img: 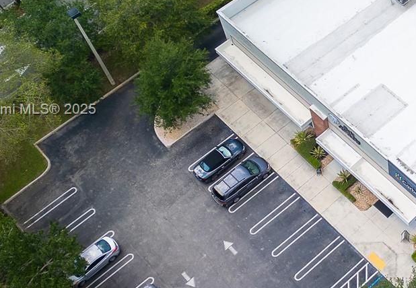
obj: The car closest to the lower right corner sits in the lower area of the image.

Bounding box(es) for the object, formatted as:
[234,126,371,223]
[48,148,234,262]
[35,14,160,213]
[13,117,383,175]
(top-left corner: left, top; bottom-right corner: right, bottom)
[211,160,271,209]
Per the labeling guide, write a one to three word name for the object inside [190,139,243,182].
car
